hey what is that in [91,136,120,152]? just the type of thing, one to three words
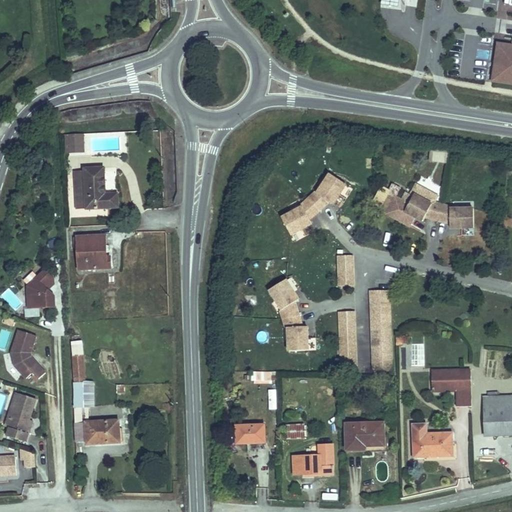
swimming pool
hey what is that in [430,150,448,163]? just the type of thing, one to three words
swimming pool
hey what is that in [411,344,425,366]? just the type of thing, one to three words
greenhouse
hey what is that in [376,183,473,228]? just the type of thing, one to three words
house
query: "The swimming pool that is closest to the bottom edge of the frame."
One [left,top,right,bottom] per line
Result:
[376,461,388,482]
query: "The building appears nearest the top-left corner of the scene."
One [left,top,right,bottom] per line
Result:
[65,134,84,152]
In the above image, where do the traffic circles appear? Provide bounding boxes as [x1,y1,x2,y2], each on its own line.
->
[162,22,268,127]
